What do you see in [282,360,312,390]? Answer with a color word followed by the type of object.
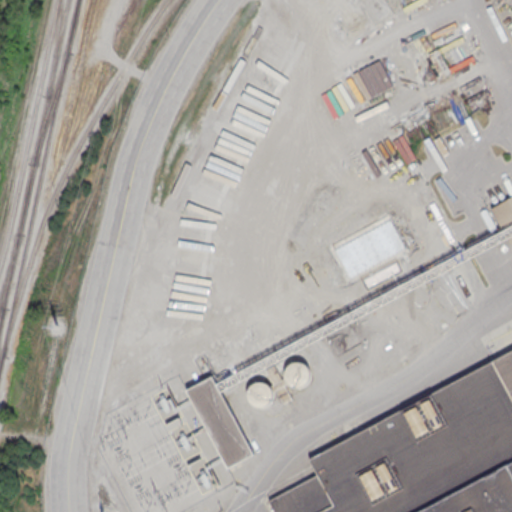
white storage tank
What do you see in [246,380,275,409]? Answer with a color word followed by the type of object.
white storage tank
